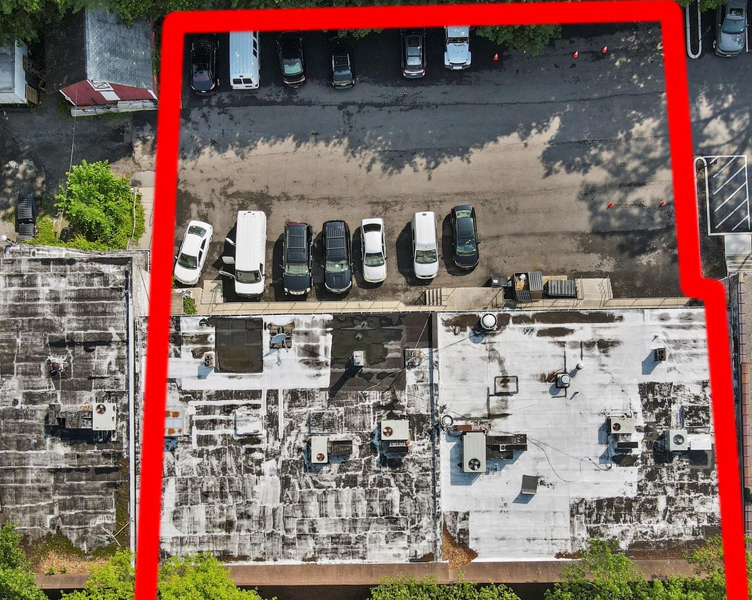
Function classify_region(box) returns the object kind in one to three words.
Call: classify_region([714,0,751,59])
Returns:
truck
